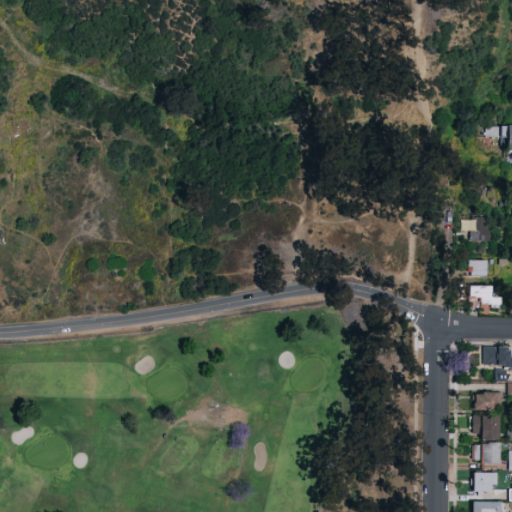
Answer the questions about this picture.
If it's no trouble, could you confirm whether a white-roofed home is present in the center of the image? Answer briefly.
No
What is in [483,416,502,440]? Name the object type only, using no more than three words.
house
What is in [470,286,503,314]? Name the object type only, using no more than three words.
house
